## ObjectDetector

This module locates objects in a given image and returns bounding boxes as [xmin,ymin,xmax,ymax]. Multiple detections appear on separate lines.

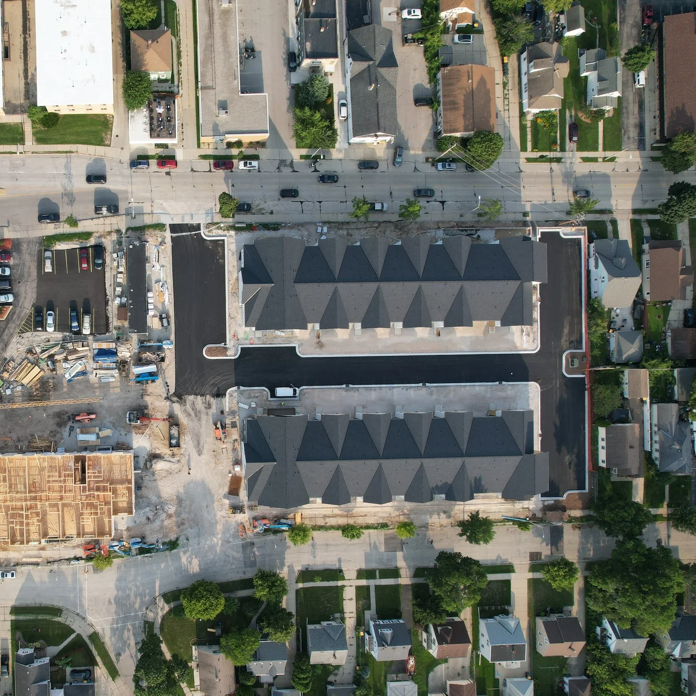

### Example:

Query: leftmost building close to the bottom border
[14,646,51,696]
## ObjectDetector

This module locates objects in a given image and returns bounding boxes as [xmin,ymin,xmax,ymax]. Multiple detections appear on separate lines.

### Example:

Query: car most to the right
[682,308,695,328]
